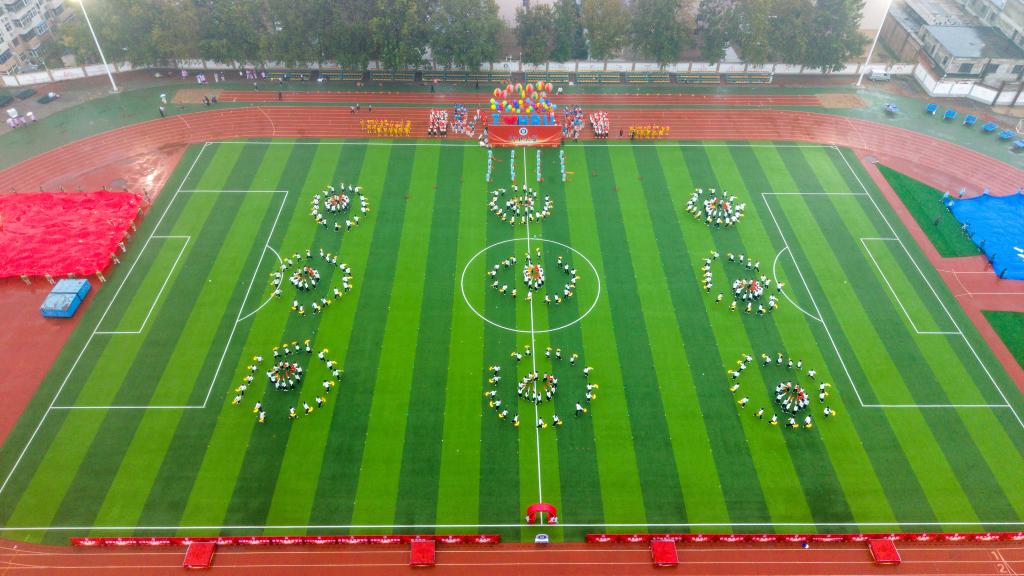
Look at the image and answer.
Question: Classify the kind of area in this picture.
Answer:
sports ground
